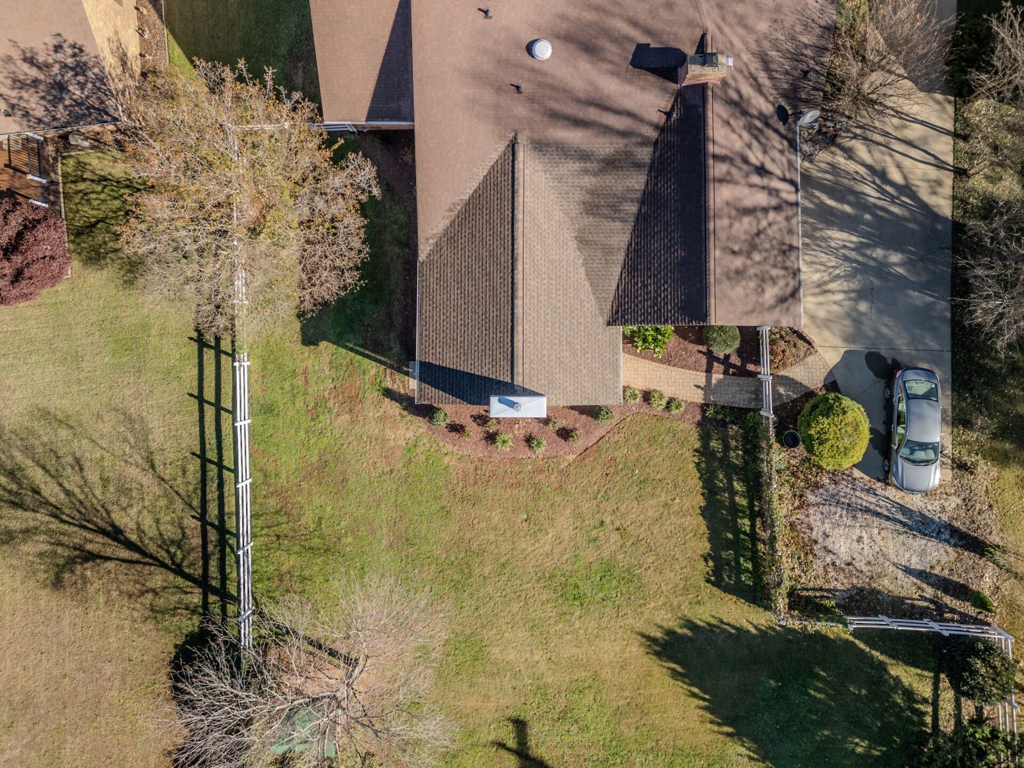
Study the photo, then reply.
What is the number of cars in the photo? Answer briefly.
1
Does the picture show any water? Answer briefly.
No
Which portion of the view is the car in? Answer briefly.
right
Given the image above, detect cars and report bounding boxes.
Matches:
[882,367,951,495]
